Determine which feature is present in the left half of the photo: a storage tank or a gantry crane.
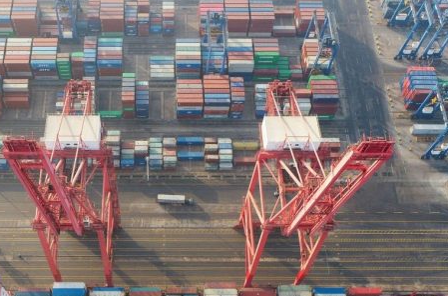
gantry crane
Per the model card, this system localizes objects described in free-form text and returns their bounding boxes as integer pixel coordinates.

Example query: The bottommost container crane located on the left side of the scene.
[0,76,129,291]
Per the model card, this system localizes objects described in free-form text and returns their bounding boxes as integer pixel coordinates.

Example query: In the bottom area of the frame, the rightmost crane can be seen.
[225,76,410,291]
